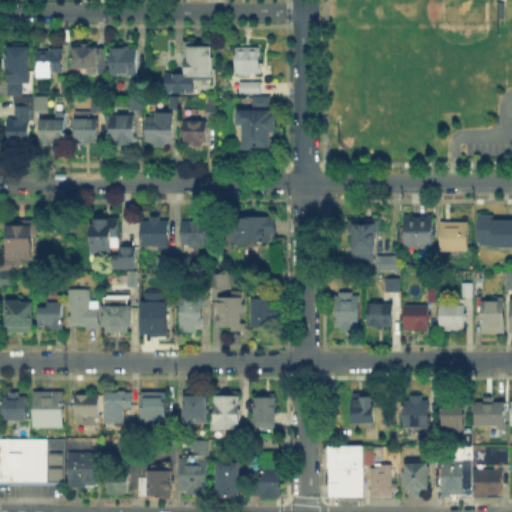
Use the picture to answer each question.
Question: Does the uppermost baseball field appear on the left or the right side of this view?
right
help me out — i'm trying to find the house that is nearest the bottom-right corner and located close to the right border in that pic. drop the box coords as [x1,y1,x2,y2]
[474,468,504,498]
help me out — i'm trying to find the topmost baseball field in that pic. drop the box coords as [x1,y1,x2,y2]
[427,0,503,52]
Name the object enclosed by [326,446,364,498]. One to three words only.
building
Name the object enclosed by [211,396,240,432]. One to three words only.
house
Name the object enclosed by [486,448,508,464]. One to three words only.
building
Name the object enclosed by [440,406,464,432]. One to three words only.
house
